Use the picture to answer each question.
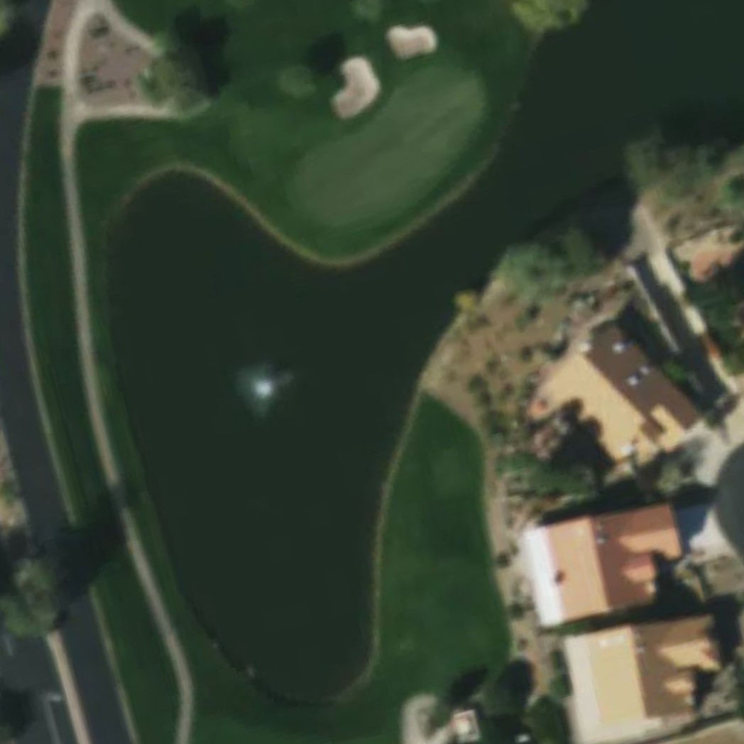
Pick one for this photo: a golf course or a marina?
golf course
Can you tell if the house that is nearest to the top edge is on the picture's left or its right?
right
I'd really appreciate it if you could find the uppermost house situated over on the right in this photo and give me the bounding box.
[538,320,702,466]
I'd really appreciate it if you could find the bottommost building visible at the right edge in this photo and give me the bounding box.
[564,616,722,744]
